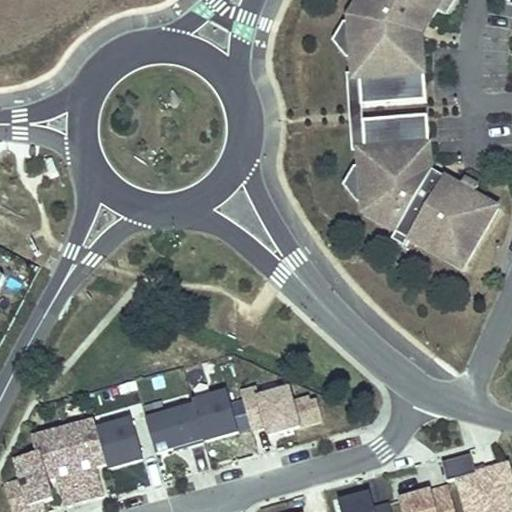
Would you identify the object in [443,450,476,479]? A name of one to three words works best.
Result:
building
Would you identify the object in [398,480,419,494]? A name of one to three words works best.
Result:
vehicle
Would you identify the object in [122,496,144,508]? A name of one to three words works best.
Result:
vehicle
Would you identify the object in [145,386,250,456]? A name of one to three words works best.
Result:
house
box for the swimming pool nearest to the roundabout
[4,277,22,292]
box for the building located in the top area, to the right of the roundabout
[332,0,501,272]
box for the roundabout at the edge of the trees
[30,0,281,259]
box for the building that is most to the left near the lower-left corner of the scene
[3,450,52,512]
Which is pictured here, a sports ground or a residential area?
residential area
